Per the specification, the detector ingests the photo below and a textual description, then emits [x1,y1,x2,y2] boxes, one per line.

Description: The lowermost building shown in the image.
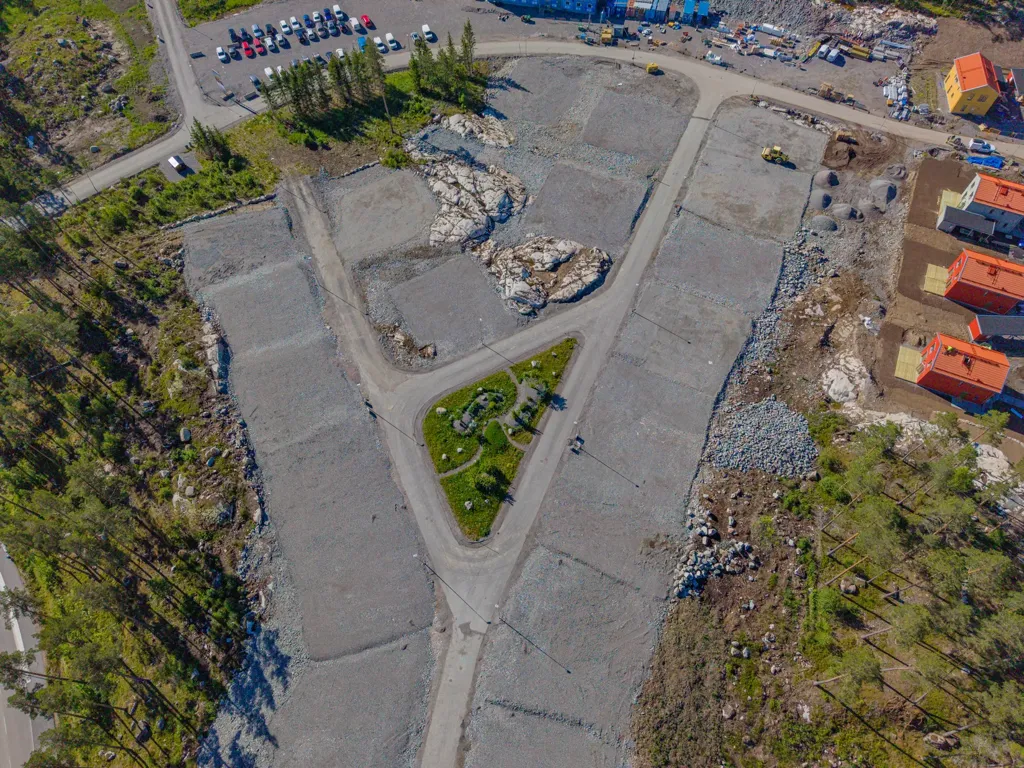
[918,333,1010,404]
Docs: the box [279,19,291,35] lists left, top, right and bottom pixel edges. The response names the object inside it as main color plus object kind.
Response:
white vehicle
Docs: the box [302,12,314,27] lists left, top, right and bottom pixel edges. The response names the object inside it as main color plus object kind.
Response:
blue vehicle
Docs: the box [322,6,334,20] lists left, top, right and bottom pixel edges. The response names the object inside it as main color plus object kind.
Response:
blue vehicle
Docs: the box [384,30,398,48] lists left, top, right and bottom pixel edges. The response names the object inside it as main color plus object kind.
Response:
white vehicle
